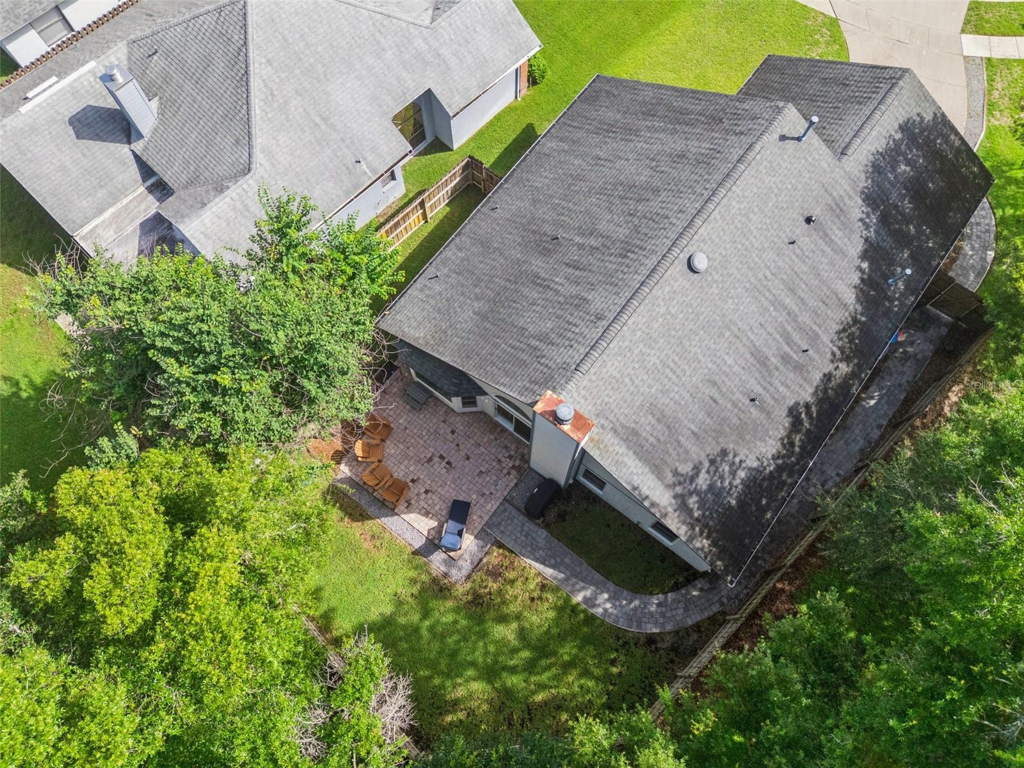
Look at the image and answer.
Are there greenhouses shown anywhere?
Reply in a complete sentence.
No, this view has no greenhouse in it.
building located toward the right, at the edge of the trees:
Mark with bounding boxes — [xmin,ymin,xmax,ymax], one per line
[374,54,996,587]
